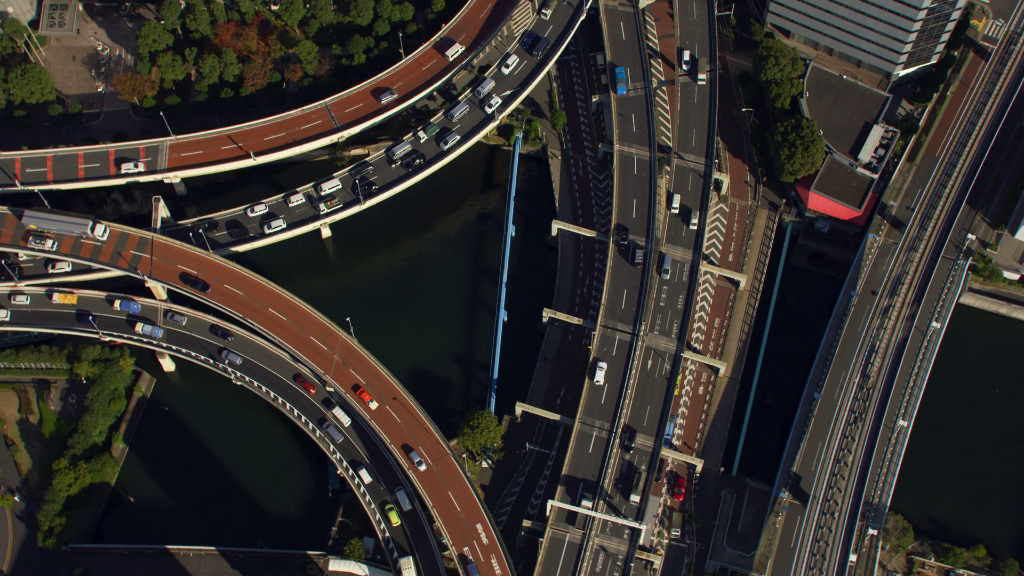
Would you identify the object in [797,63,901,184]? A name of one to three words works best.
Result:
building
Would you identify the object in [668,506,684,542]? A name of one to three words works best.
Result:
vehicle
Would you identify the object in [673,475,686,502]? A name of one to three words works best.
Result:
vehicle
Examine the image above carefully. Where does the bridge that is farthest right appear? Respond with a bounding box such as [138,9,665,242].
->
[747,0,1024,576]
